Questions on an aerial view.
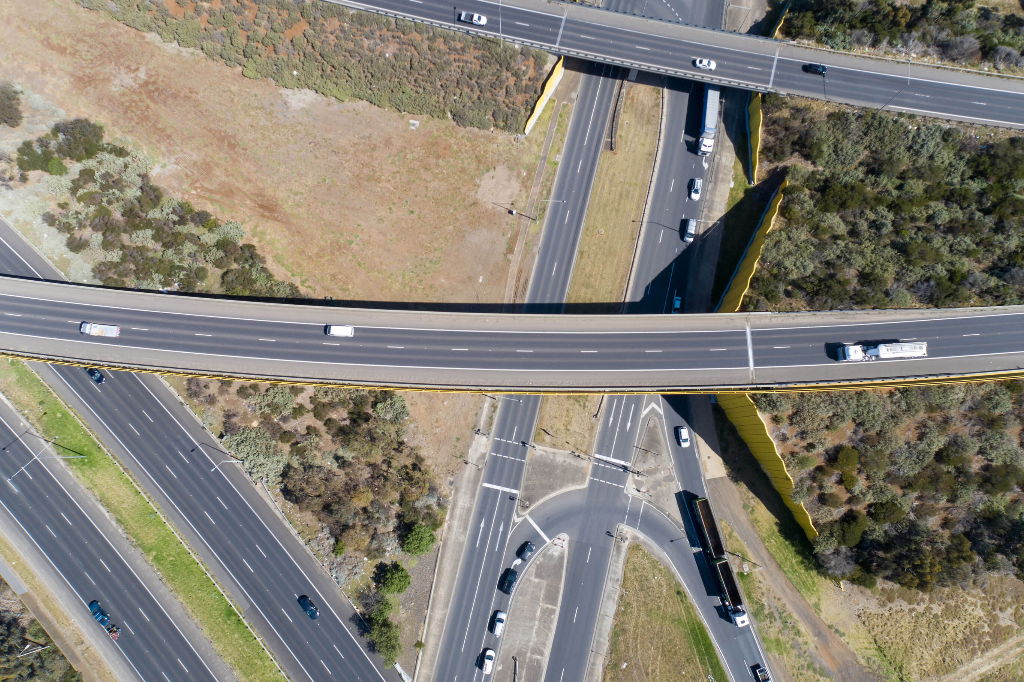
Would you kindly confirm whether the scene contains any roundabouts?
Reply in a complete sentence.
No, I can't see a single roundabout in this photo.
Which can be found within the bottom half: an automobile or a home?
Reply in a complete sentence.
Visible within the bottom half is an automobile.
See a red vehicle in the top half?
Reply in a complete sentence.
No, I can find no red vehicle in the top half.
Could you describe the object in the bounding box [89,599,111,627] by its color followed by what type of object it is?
blue truck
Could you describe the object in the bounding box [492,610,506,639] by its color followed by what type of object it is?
white car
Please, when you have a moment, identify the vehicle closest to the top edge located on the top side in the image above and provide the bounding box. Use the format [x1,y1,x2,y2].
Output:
[461,12,487,27]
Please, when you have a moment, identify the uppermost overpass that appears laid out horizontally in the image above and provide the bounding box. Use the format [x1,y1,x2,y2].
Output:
[556,0,781,96]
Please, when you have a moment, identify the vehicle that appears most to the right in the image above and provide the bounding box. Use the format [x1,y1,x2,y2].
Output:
[835,343,929,362]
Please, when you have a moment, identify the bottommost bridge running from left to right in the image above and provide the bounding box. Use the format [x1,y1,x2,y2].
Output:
[0,277,759,396]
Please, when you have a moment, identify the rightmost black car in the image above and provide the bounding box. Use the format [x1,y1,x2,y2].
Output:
[806,63,828,75]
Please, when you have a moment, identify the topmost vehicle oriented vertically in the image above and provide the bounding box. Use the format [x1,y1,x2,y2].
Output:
[697,86,719,157]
